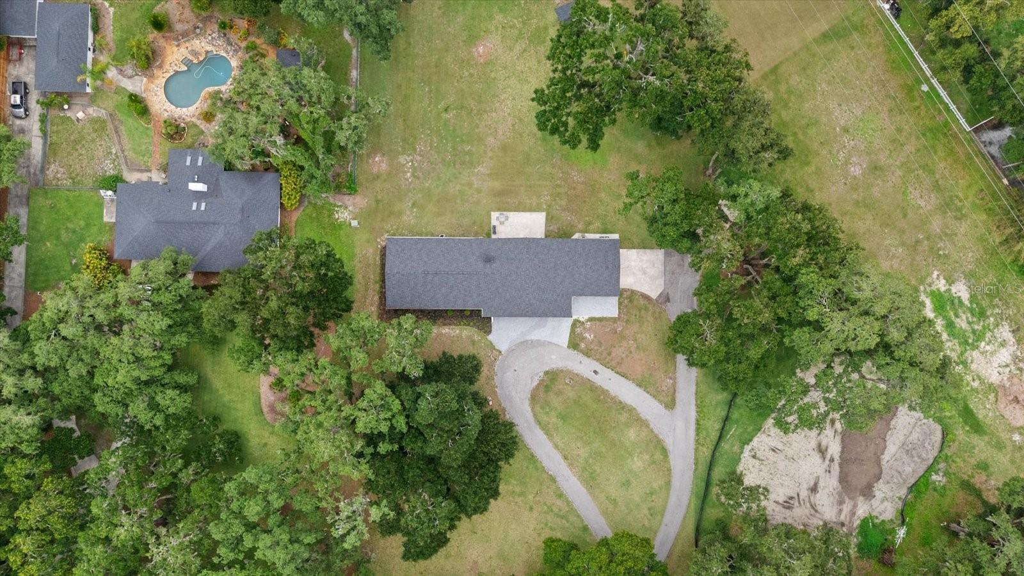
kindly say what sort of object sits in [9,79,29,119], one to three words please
vehicle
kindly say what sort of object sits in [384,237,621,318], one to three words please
house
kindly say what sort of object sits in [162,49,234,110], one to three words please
swimming pool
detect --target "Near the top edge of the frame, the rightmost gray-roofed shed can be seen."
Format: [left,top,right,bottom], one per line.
[555,1,574,26]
